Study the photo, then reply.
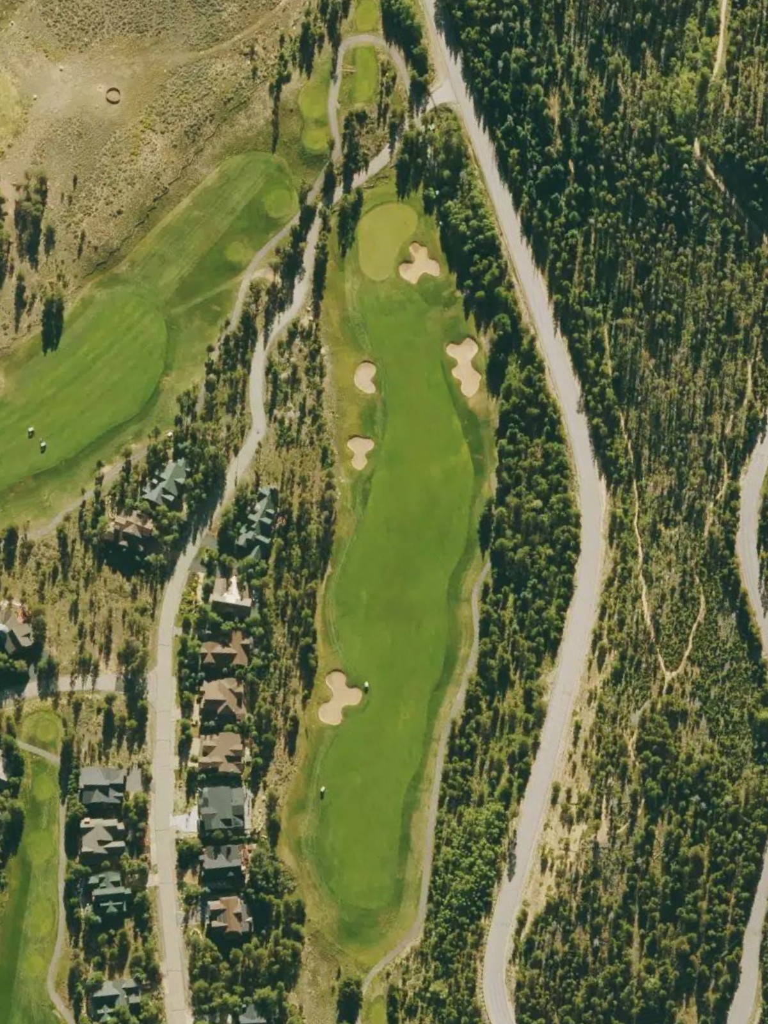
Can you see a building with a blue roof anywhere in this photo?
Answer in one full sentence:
No, no building with a blue roof is visible in the scene.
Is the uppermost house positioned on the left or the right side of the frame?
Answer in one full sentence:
It is on the left.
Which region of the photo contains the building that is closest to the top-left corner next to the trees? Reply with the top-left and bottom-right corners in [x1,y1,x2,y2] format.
[141,455,189,507]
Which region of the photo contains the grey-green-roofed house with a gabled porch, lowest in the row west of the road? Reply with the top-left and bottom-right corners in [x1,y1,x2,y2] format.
[92,976,151,1023]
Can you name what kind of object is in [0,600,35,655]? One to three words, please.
house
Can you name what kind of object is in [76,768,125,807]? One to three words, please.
house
